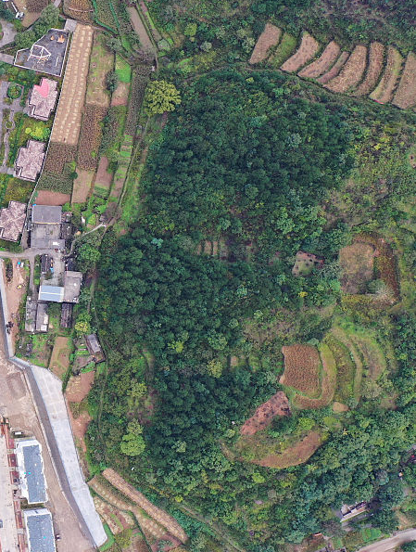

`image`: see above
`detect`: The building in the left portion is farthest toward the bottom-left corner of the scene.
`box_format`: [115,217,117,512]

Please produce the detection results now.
[21,505,58,552]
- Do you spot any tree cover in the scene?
Yes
